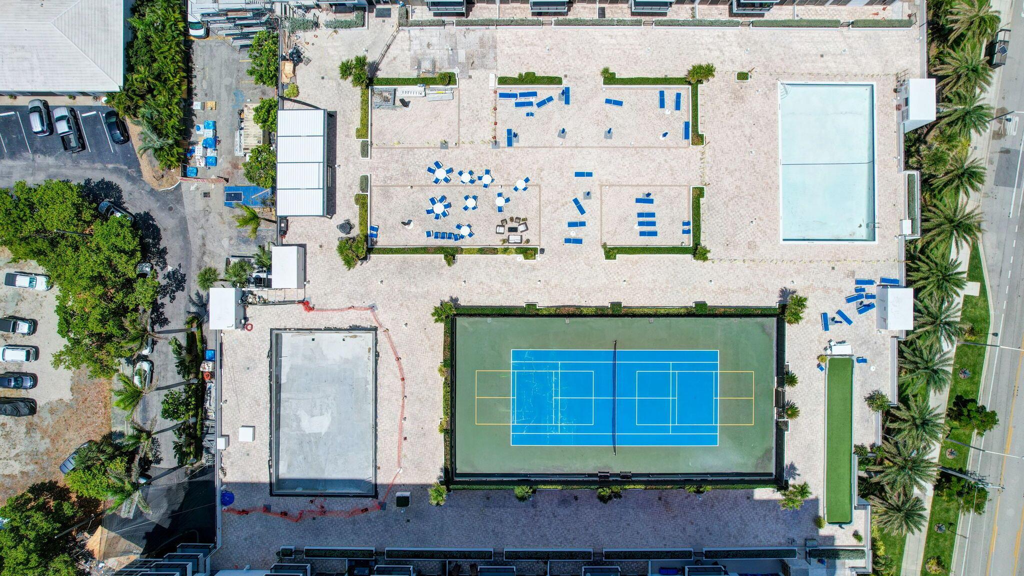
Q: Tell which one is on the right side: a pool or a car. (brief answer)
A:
pool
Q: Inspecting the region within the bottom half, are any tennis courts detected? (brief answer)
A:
Yes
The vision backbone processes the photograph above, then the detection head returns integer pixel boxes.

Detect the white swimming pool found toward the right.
[778,76,881,245]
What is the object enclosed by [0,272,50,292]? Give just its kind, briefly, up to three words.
vehicle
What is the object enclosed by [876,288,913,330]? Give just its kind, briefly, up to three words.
shed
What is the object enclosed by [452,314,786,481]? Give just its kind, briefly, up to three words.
tennis court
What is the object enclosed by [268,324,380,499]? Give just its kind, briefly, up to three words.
swimming pool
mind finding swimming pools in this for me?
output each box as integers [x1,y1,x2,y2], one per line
[268,324,380,499]
[778,76,881,245]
